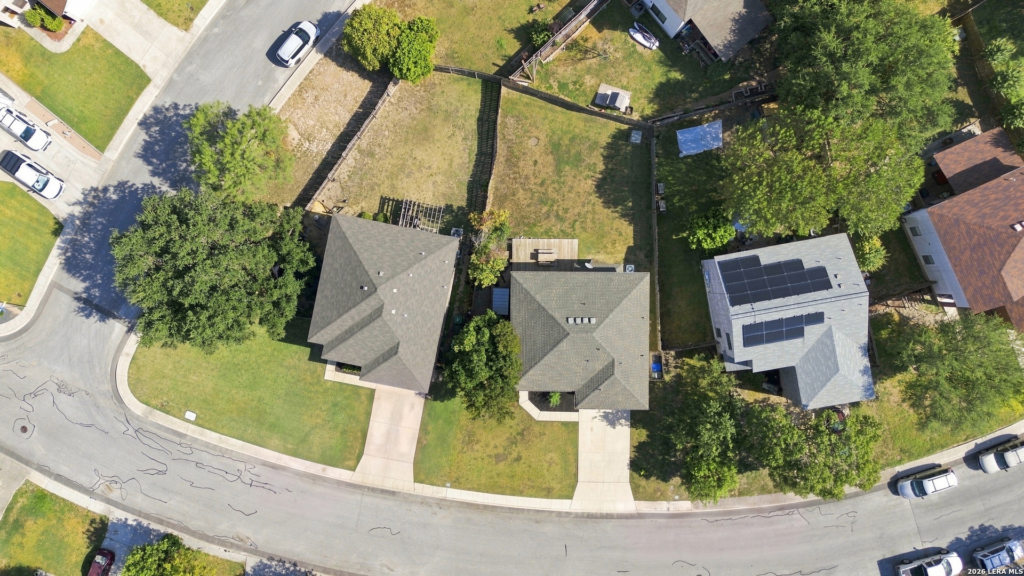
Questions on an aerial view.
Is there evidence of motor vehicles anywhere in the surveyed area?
Yes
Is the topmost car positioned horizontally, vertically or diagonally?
diagonally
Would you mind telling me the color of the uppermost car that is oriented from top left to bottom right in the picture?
white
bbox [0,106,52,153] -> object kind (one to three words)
car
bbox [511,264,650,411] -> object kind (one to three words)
house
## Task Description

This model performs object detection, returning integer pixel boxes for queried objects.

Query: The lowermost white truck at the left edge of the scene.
[0,147,60,200]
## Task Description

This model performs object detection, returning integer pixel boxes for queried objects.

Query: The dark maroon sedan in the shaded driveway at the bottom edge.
[86,549,114,576]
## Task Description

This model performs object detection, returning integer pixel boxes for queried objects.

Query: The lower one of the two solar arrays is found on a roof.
[743,312,826,348]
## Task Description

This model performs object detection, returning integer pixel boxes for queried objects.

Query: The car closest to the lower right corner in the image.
[972,538,1024,574]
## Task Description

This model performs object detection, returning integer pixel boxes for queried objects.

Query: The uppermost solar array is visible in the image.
[718,255,839,305]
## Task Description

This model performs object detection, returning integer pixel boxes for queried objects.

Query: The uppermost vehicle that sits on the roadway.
[273,19,318,67]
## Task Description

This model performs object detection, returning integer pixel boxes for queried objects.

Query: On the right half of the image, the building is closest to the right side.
[906,127,1024,334]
